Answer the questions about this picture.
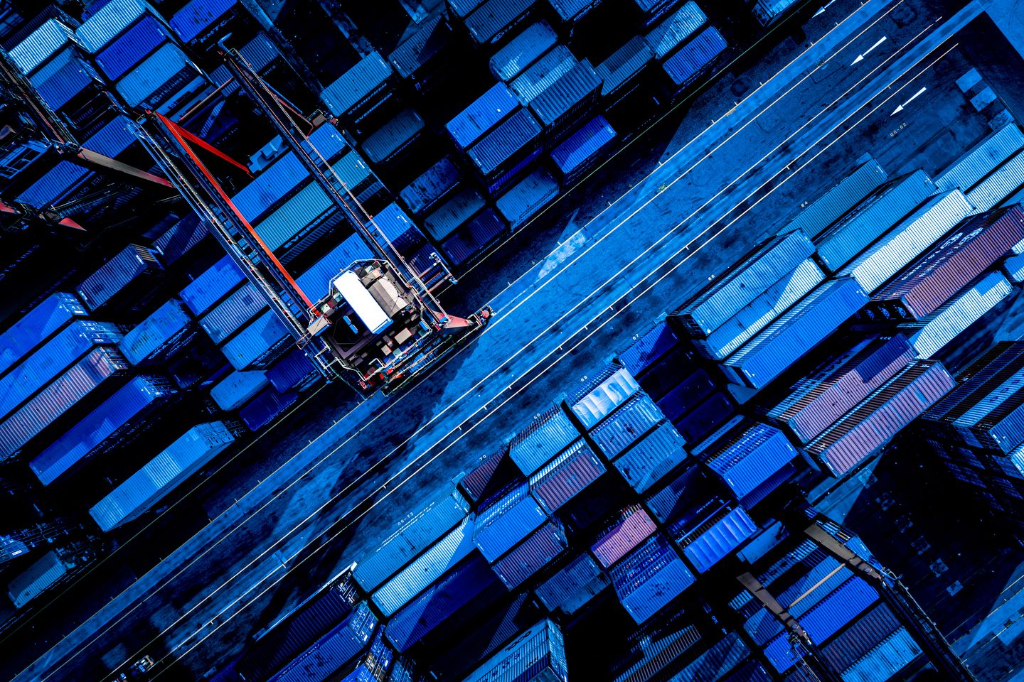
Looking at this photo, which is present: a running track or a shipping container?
shipping container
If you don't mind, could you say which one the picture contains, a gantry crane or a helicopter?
gantry crane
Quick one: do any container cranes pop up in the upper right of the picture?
No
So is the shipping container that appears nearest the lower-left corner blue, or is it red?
blue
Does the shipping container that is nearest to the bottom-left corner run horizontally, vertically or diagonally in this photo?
diagonally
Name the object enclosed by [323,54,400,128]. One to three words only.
shipping container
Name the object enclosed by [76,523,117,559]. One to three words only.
work vehicle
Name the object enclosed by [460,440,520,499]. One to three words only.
shipping container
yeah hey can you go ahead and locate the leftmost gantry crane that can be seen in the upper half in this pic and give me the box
[0,0,221,253]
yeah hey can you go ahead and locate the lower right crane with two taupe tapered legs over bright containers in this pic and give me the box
[677,471,993,682]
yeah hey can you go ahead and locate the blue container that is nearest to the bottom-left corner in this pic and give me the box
[4,544,82,609]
